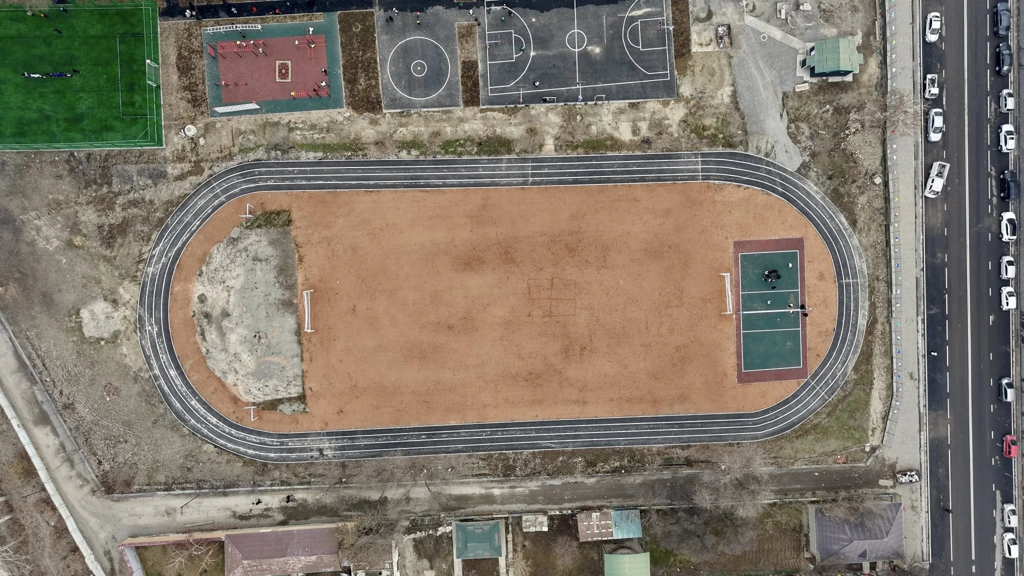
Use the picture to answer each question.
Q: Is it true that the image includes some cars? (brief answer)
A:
Yes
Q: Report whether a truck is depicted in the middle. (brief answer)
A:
No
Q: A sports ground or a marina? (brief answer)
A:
sports ground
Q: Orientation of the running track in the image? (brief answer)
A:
from left to right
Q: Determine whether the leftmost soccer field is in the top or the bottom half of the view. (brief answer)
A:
top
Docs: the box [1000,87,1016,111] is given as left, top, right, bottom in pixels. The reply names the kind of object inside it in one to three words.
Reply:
car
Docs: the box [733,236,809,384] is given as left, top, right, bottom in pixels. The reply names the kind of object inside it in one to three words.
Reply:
sports court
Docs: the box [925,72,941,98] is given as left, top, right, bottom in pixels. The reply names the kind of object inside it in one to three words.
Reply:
vehicle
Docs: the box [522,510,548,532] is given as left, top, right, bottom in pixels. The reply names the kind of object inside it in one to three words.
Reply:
shed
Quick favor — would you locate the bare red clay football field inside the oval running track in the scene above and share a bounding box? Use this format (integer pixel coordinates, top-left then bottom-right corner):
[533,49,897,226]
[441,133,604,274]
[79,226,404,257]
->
[169,182,838,433]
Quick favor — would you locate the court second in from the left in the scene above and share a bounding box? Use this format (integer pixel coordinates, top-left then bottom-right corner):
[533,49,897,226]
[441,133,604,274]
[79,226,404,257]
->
[375,0,481,112]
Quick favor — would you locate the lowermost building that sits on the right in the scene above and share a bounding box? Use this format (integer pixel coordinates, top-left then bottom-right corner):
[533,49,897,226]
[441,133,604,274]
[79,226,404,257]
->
[601,546,650,576]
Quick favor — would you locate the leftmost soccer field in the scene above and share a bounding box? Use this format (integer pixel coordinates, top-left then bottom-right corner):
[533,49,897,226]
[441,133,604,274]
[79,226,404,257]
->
[0,0,165,150]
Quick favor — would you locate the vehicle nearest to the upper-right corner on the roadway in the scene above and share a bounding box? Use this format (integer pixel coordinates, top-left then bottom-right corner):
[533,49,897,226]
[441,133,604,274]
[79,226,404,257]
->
[995,2,1012,35]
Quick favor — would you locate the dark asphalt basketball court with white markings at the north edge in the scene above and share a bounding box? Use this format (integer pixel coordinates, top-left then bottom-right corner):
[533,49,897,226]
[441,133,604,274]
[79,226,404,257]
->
[476,0,677,107]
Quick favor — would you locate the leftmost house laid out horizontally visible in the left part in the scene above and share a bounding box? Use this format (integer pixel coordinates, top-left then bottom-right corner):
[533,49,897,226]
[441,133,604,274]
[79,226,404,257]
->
[225,522,342,576]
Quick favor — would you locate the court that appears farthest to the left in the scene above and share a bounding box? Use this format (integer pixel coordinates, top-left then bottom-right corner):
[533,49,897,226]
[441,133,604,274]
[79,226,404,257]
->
[201,12,345,119]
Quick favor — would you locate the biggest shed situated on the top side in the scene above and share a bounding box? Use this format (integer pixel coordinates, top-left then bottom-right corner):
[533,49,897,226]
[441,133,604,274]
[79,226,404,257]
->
[800,38,863,77]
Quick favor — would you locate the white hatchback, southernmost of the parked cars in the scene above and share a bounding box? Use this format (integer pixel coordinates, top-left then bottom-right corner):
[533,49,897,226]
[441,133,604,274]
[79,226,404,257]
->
[1003,534,1020,561]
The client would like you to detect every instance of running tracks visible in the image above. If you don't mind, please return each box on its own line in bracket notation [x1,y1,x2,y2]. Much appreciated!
[138,151,868,463]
